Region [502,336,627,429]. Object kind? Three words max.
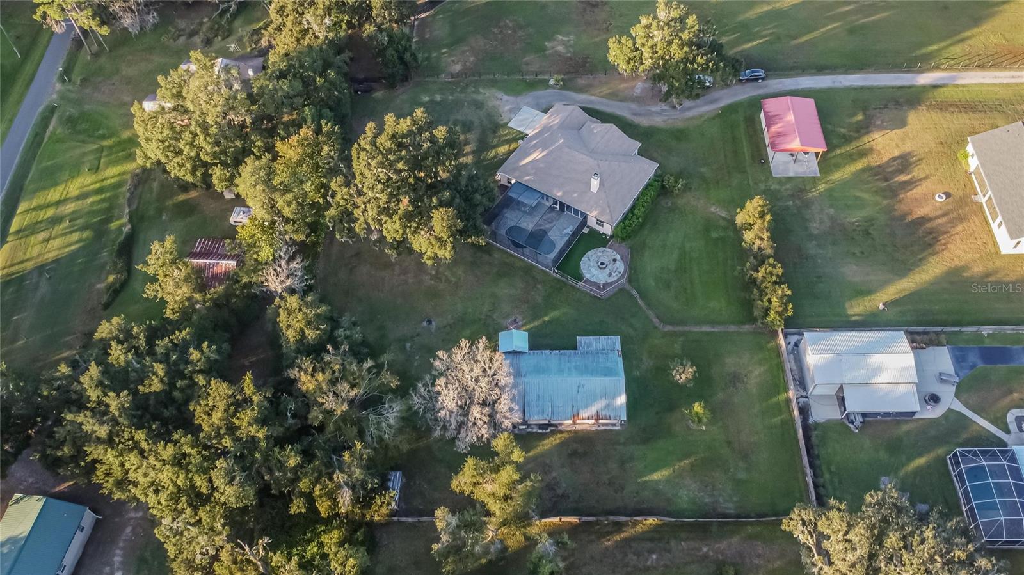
barn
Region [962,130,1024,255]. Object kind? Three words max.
house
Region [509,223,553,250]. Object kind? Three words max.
swimming pool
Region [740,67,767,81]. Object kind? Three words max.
car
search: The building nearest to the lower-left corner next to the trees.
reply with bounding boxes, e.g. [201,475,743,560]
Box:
[0,494,107,575]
